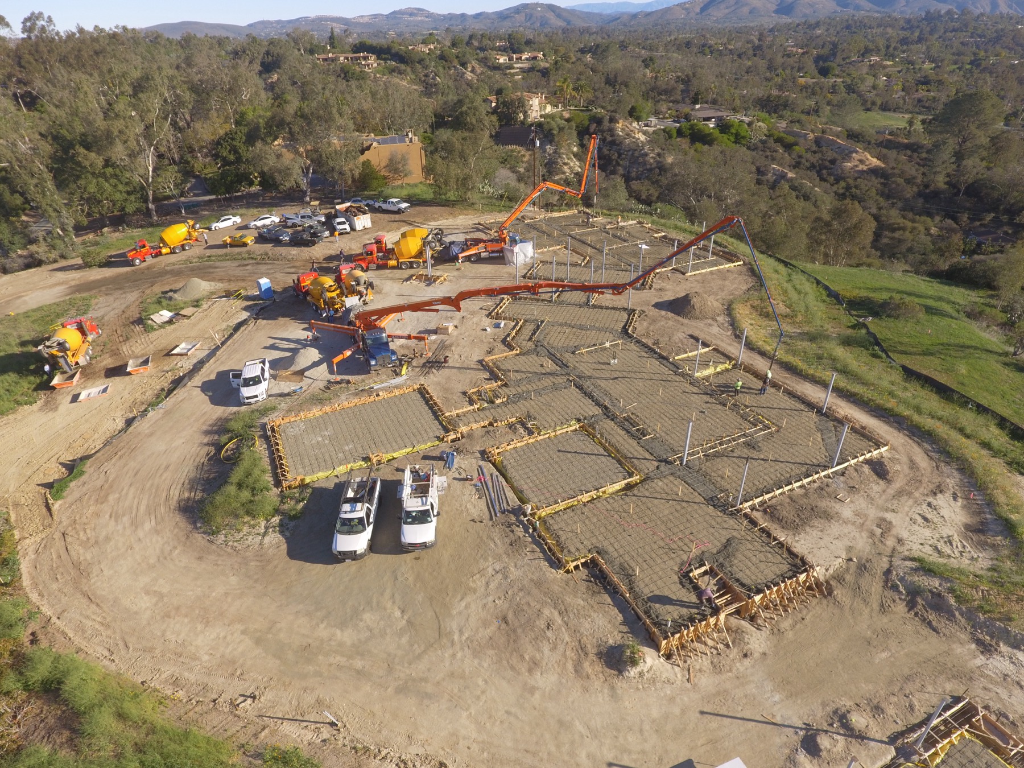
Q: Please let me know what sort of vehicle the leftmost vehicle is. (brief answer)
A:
truck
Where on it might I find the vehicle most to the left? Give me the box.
[34,313,101,373]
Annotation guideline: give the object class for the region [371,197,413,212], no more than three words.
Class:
vehicle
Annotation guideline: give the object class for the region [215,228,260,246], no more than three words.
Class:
vehicle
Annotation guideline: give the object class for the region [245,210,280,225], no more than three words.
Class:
car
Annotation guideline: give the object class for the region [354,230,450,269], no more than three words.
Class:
truck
